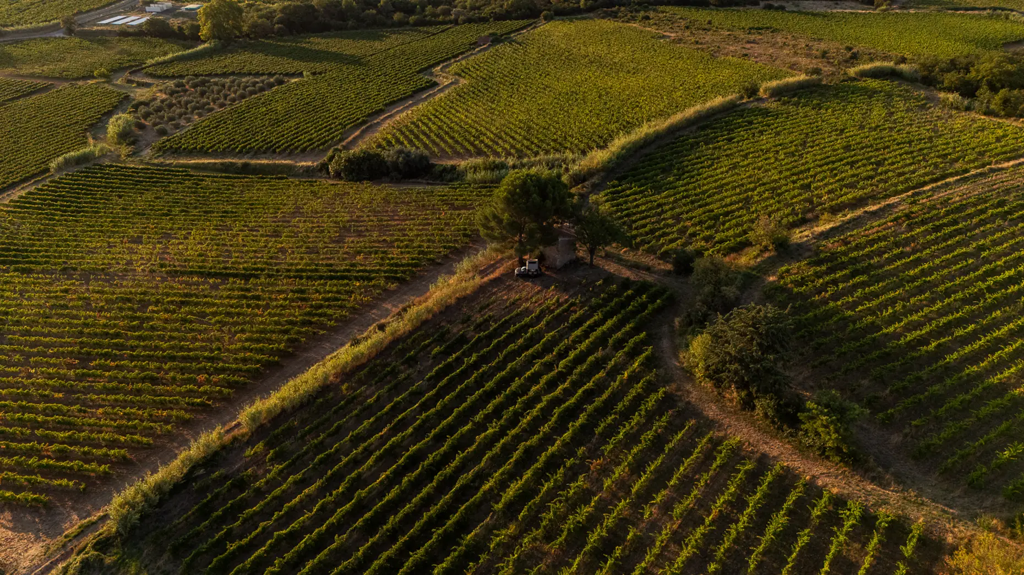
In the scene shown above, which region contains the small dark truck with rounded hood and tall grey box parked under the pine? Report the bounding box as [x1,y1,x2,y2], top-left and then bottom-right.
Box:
[514,258,542,278]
